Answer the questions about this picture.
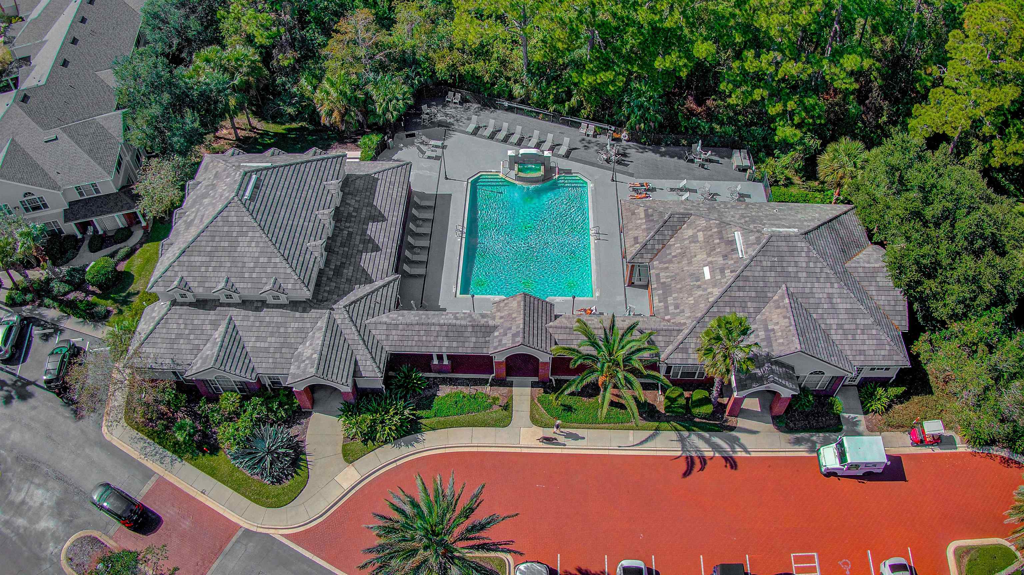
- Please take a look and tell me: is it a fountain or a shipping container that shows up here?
fountain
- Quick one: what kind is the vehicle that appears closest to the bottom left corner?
automobile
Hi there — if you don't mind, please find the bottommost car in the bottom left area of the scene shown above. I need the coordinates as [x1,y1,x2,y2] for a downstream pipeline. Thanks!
[84,483,158,541]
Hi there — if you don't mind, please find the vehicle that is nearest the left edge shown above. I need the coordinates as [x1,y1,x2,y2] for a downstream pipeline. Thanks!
[0,312,30,368]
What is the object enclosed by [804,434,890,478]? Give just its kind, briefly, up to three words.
truck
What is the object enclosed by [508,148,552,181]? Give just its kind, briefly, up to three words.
fountain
